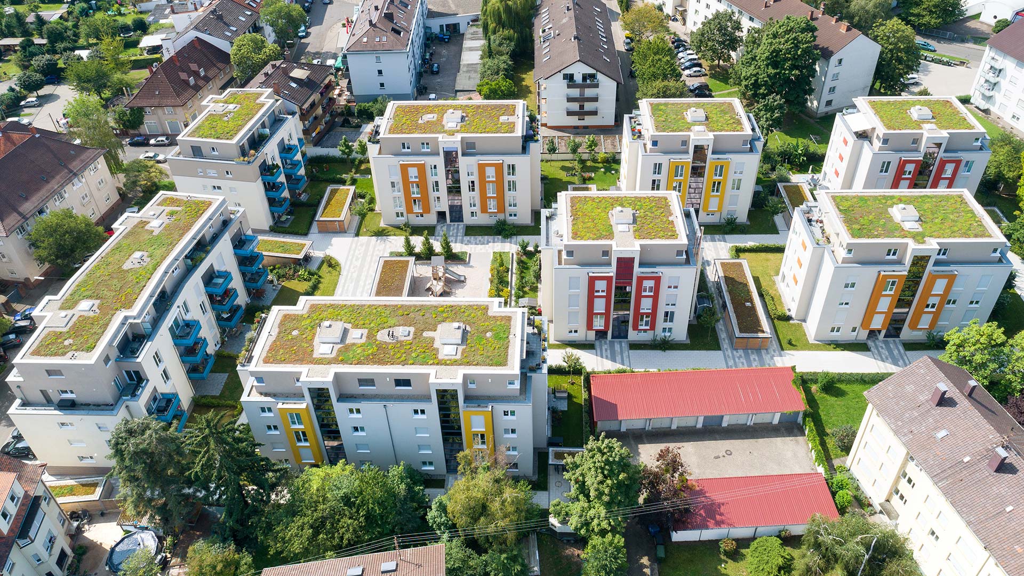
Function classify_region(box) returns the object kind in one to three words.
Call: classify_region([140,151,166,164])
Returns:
vehicle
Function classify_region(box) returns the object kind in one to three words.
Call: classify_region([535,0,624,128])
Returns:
house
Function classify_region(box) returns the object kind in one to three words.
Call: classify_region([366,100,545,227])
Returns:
building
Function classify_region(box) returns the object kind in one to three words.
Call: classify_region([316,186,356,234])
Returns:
shed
